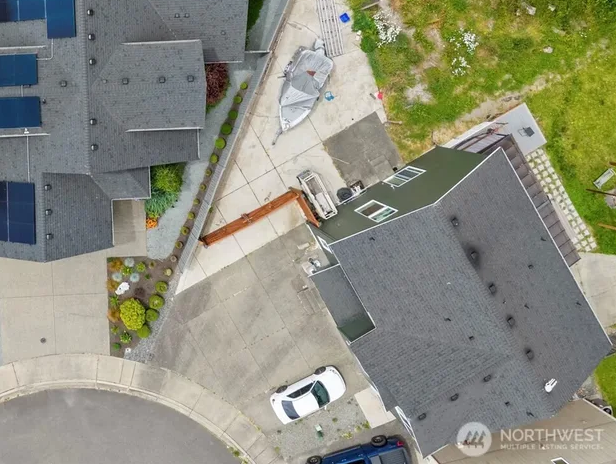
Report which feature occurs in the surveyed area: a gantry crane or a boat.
boat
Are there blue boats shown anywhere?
No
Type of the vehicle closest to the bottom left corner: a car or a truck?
car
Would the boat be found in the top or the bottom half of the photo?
top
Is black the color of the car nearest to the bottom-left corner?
No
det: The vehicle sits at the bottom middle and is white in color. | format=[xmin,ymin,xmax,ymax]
[266,365,347,421]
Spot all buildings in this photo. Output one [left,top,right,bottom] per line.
[305,141,612,459]
[0,0,249,261]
